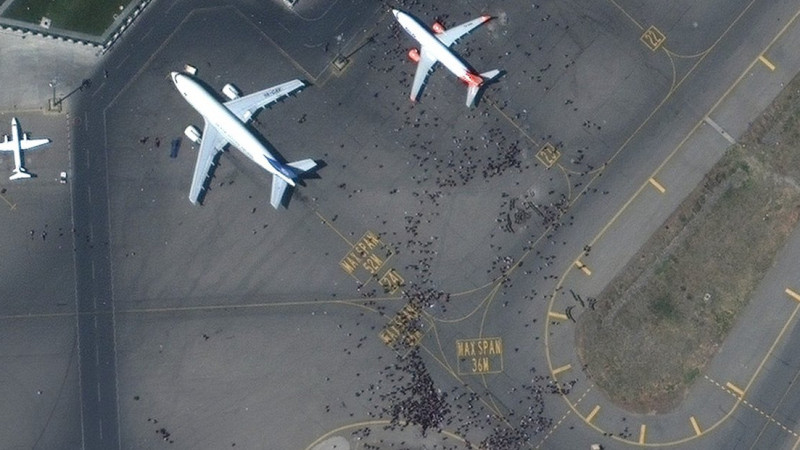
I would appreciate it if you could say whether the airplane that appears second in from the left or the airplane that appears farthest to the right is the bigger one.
the airplane that appears second in from the left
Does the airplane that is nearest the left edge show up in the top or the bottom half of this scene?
top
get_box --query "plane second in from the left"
[171,73,318,209]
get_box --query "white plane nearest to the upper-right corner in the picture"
[392,9,503,105]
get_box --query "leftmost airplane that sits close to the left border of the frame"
[0,118,49,179]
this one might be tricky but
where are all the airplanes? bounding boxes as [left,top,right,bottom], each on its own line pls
[0,118,49,179]
[171,73,318,209]
[392,9,503,105]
